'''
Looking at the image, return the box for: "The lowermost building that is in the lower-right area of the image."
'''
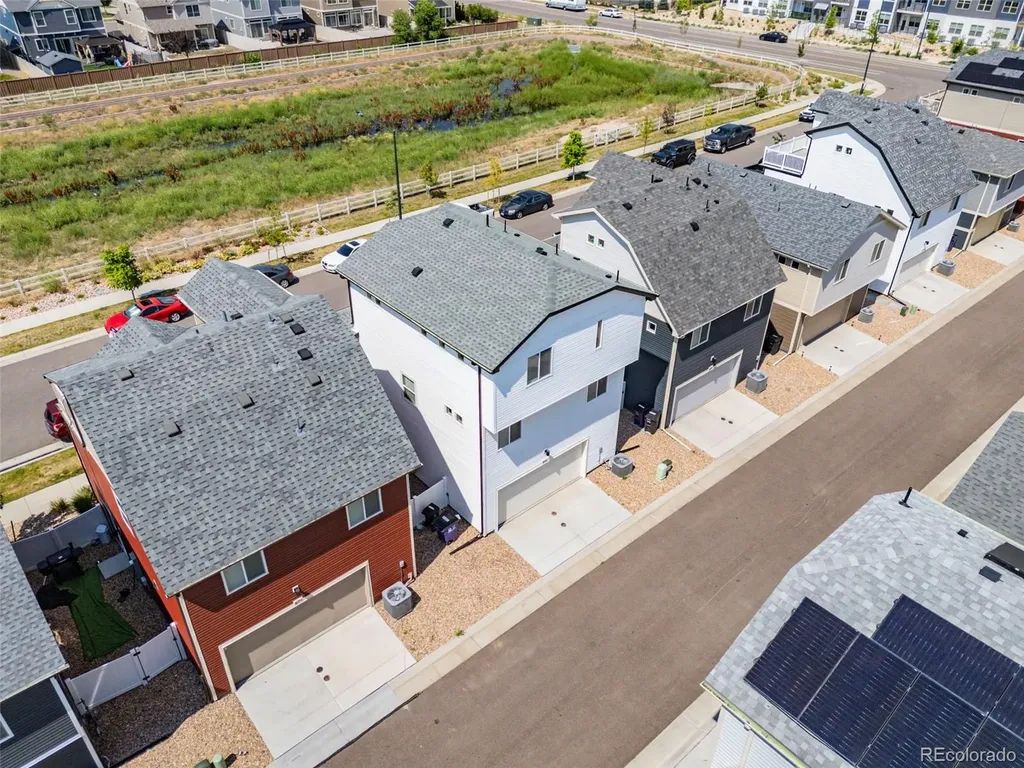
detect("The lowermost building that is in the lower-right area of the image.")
[692,482,1024,768]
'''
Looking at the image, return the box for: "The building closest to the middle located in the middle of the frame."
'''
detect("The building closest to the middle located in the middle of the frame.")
[336,206,663,550]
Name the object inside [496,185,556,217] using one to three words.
car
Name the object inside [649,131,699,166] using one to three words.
car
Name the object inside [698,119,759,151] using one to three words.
truck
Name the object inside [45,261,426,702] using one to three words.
house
